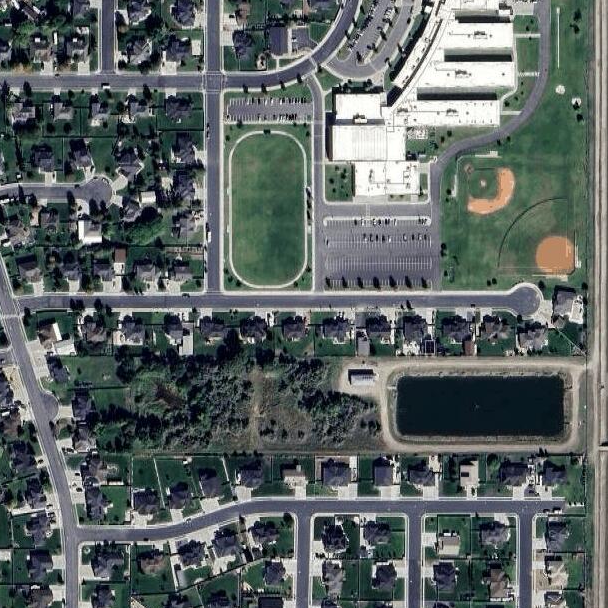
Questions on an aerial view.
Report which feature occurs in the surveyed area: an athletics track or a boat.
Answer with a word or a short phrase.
athletics track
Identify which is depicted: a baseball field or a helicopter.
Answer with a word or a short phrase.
baseball field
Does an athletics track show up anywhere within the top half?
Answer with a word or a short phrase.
Yes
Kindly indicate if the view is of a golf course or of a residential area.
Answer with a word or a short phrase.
residential area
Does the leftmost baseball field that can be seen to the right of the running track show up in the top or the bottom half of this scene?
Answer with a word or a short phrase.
top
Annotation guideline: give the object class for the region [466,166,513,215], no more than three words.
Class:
baseball field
